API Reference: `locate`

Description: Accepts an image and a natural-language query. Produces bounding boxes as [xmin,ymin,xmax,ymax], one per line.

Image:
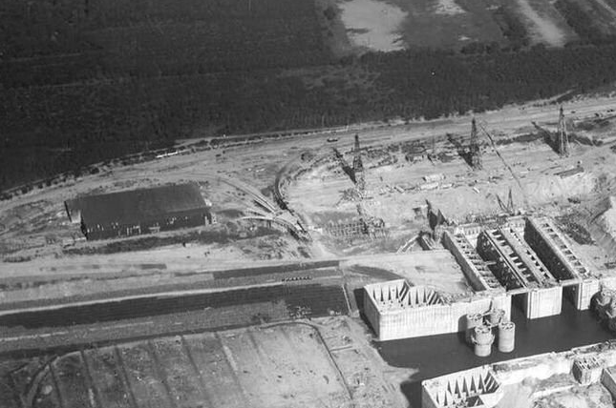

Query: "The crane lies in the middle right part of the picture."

[480,122,537,212]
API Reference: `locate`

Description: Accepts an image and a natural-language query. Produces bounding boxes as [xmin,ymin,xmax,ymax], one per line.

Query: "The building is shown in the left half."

[66,184,210,240]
